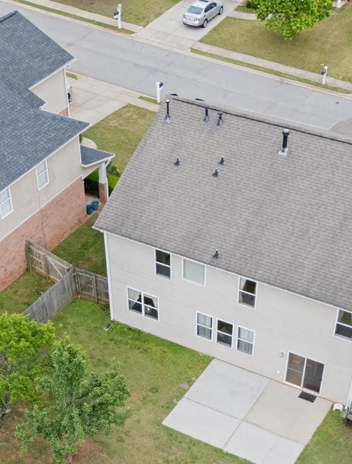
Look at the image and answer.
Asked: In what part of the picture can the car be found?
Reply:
top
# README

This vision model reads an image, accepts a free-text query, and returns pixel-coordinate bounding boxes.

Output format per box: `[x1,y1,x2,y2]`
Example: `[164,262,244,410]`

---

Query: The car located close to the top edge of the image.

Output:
[185,0,221,25]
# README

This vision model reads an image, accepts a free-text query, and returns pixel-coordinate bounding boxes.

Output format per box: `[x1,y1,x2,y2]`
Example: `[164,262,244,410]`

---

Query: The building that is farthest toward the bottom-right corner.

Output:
[91,98,352,409]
